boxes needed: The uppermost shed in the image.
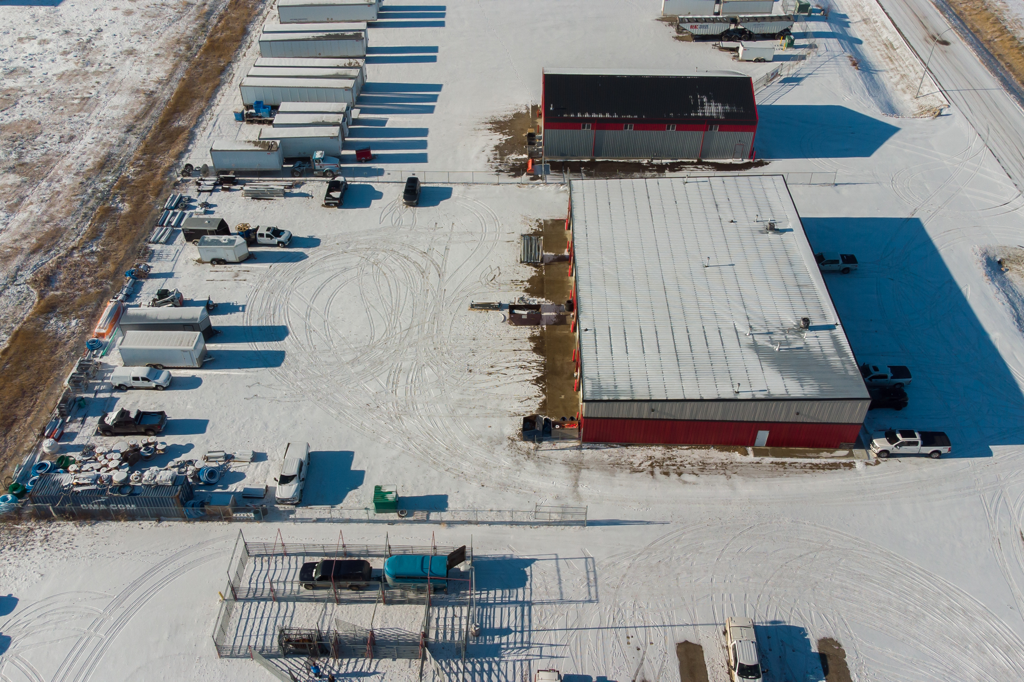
[540,68,759,162]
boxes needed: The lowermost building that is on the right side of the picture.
[568,173,873,449]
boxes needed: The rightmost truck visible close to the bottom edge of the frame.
[730,615,773,682]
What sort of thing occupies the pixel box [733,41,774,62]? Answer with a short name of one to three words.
trailer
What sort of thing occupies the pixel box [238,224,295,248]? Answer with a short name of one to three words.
truck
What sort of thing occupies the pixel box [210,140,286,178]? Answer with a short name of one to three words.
trailer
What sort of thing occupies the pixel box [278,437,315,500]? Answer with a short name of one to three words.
truck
